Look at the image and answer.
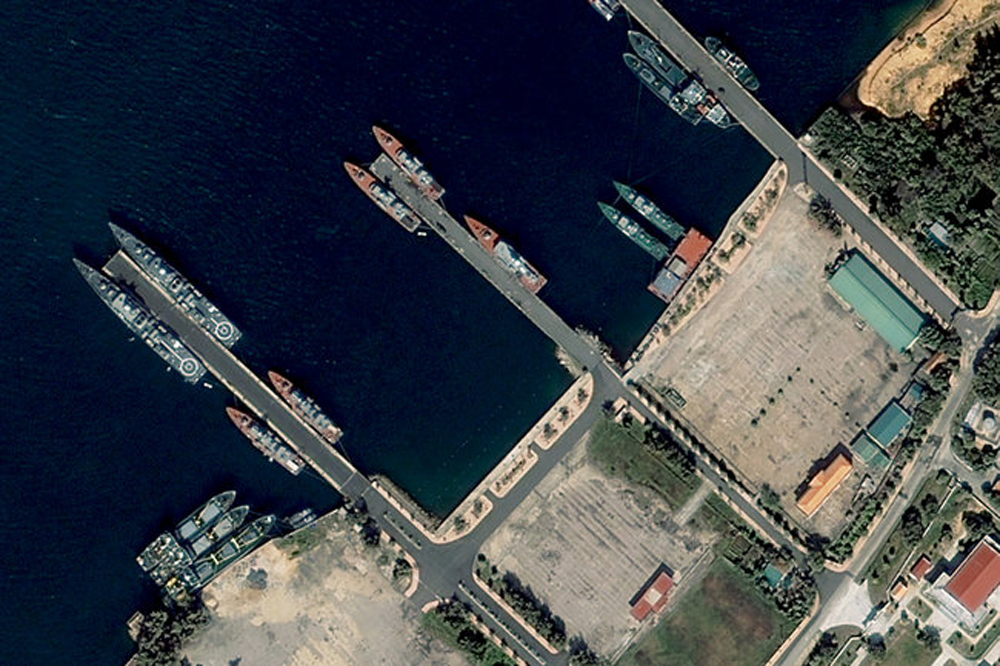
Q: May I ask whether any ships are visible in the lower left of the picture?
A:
Yes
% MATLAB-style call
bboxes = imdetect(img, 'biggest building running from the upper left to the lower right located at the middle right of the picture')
[829,250,929,351]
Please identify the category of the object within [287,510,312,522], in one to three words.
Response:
boat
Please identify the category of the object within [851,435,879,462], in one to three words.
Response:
shed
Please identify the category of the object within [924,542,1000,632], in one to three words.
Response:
building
